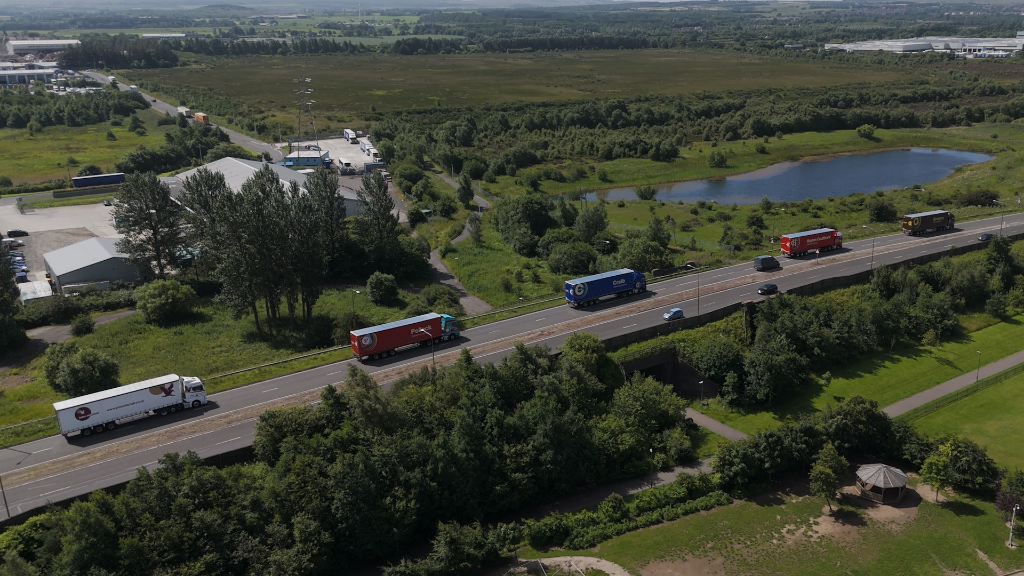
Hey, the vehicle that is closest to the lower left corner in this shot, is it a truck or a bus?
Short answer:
truck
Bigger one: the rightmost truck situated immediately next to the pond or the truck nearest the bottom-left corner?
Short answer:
the truck nearest the bottom-left corner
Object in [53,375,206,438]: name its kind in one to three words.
truck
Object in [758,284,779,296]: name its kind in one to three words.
vehicle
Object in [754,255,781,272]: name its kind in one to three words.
vehicle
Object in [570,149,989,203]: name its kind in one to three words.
pond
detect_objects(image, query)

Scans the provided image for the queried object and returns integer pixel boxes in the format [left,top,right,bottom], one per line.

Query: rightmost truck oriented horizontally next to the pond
[901,210,958,235]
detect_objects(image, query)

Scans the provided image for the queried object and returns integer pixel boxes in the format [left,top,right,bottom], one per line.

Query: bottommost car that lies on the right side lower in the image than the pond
[662,307,686,321]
